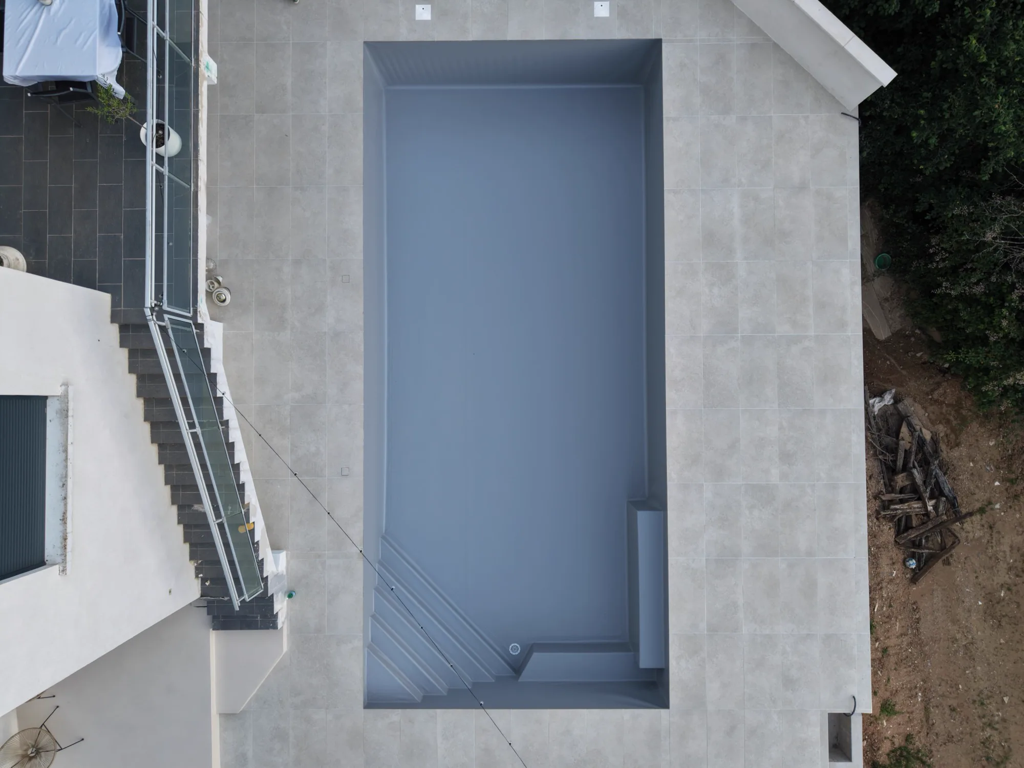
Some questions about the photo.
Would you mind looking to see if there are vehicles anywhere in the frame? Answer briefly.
No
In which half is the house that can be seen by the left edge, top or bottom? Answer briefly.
bottom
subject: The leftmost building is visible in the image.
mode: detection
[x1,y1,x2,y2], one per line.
[0,269,200,768]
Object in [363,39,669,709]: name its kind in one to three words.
swimming pool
